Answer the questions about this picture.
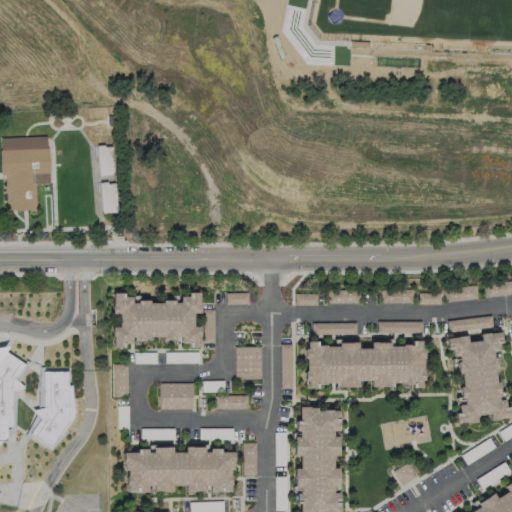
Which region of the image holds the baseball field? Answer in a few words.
top right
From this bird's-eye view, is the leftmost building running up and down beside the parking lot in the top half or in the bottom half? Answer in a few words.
bottom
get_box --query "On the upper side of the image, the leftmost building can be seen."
[2,137,50,210]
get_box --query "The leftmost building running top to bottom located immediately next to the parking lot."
[297,408,344,512]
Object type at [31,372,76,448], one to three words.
building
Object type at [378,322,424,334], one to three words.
building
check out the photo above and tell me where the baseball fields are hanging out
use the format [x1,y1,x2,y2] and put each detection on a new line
[310,0,512,44]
